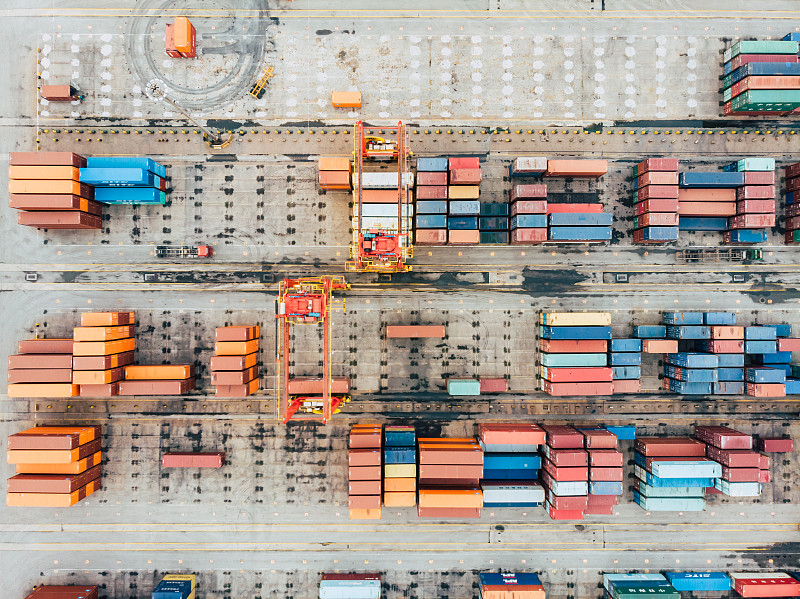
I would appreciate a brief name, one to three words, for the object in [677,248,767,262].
vehicle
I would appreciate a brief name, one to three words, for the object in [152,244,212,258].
vehicle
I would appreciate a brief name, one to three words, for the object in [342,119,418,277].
container crane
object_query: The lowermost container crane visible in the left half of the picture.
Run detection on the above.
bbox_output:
[275,275,357,425]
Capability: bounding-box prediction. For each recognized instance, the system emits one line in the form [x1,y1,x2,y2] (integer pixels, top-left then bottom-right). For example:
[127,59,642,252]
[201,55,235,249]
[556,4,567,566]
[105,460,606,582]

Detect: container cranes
[342,119,418,277]
[275,275,357,425]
